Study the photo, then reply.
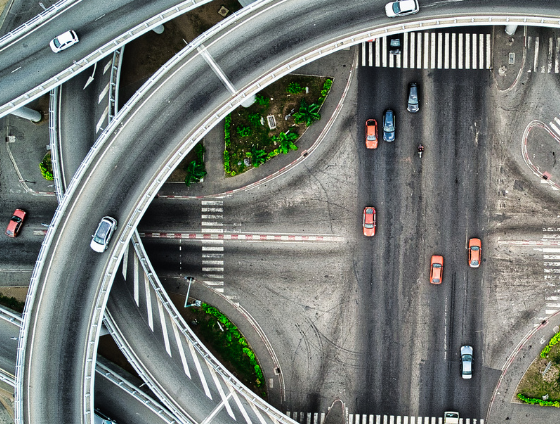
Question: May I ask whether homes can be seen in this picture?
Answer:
No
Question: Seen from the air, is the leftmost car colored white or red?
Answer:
red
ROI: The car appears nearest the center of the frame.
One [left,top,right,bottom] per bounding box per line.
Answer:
[362,206,376,236]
